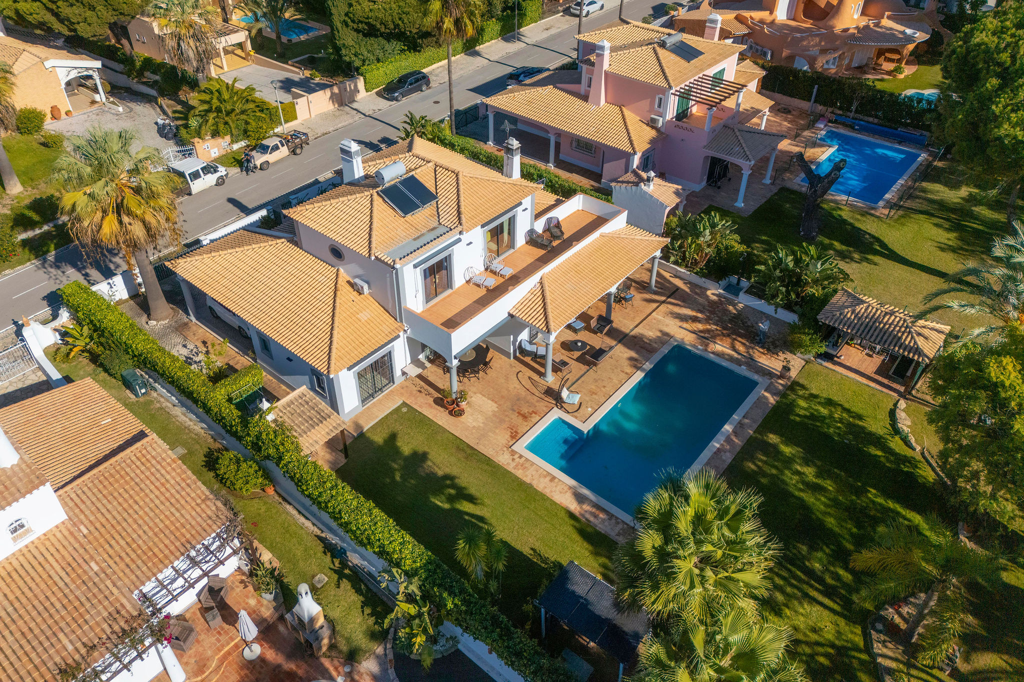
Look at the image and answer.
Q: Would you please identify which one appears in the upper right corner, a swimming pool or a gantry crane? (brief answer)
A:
swimming pool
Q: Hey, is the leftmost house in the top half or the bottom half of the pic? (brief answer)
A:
top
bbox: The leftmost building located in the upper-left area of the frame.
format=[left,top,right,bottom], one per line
[0,39,105,124]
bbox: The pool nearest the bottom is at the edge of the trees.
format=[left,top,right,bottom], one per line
[510,336,765,524]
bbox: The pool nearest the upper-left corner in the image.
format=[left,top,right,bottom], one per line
[229,11,326,40]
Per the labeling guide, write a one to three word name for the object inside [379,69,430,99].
car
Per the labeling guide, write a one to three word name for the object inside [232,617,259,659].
umbrella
